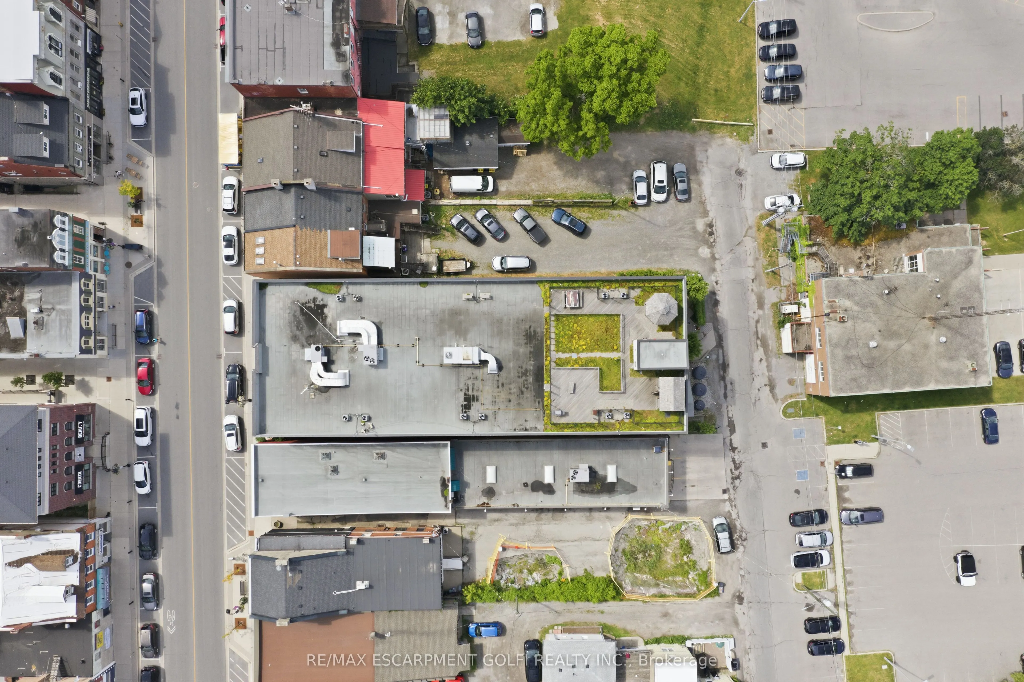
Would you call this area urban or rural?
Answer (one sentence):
From above, the setting appears urban.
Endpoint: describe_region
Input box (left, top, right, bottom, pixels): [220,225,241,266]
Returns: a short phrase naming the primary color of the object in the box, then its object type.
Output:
white car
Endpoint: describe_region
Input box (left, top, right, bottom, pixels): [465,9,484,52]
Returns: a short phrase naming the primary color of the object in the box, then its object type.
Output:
gray car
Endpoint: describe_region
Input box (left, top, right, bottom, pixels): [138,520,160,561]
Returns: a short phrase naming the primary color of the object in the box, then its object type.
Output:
black car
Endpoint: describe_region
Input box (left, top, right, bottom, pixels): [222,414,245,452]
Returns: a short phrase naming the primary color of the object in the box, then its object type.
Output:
white car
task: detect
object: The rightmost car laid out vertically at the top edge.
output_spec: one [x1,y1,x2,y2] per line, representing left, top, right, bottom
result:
[527,1,546,42]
